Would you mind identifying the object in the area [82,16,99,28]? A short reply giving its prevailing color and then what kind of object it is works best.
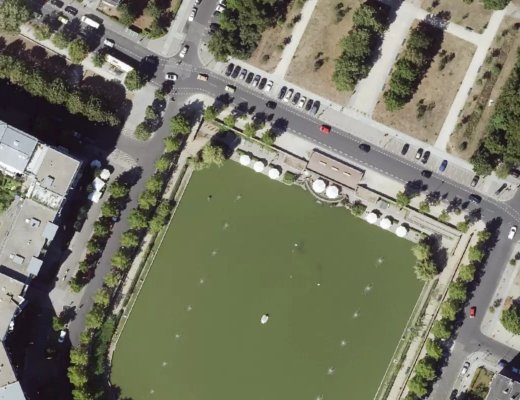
white vehicle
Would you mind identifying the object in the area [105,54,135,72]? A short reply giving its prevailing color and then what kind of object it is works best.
white vehicle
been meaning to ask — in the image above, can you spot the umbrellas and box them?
[240,155,250,165]
[253,161,264,172]
[269,169,279,179]
[100,169,110,180]
[91,159,101,169]
[313,180,326,192]
[94,179,105,189]
[326,185,339,198]
[367,213,377,223]
[396,226,407,237]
